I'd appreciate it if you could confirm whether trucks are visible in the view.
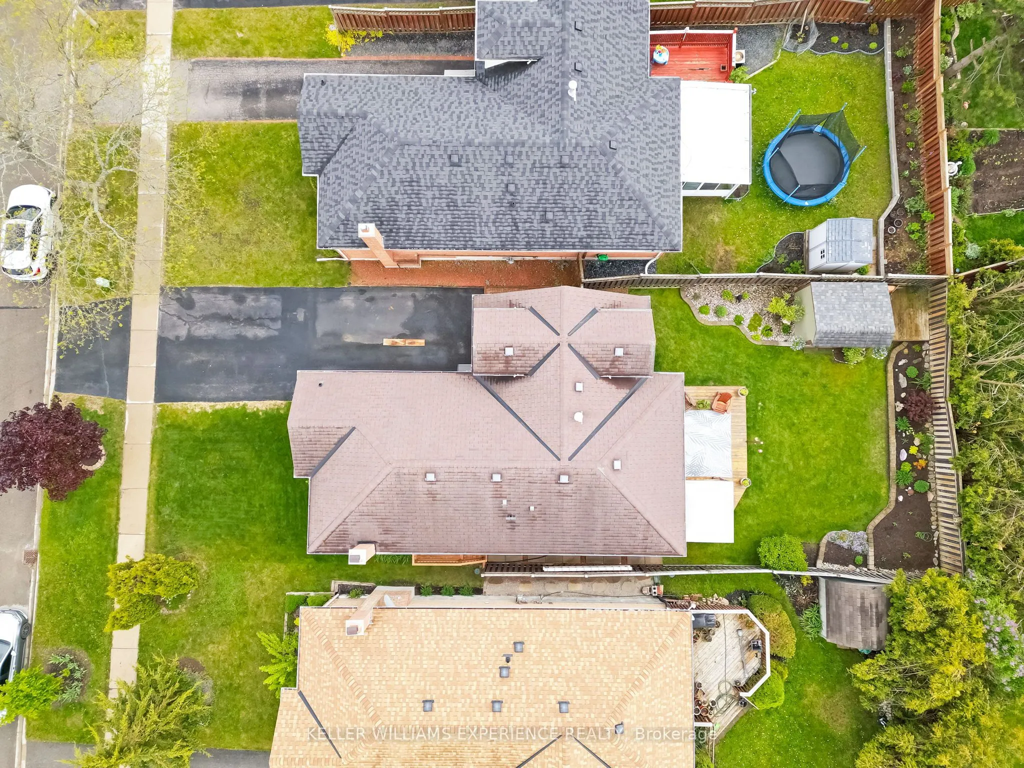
No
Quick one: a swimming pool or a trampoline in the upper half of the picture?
trampoline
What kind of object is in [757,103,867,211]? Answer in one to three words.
trampoline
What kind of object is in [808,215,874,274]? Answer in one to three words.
shed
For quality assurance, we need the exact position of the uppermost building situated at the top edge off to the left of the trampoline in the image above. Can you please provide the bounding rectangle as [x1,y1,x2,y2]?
[293,0,753,275]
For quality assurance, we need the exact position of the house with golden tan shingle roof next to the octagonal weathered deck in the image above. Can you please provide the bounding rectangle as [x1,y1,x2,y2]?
[269,580,696,768]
